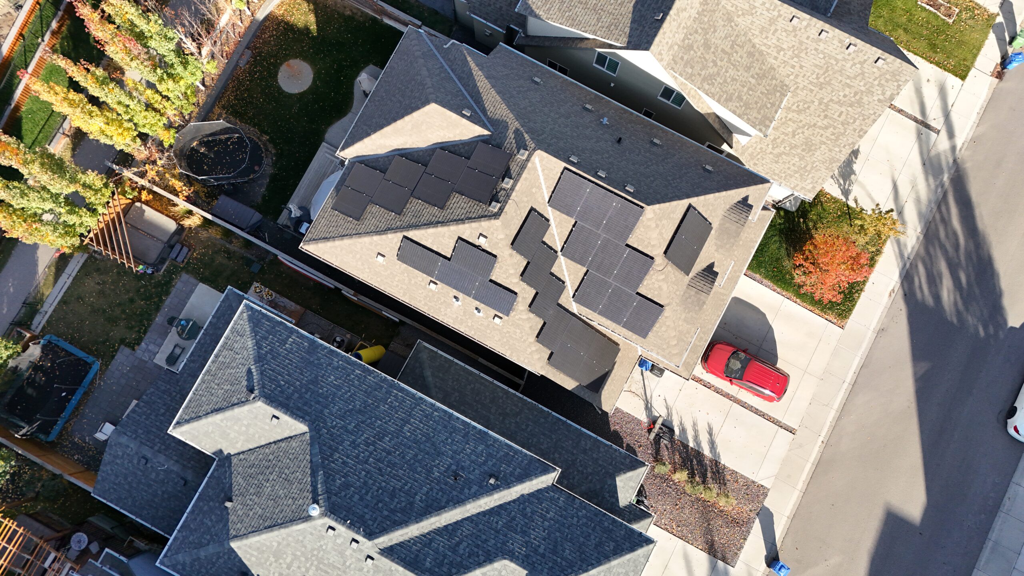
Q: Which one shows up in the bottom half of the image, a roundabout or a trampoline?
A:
trampoline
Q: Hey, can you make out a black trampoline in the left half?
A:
Yes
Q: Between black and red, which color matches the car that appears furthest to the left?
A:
red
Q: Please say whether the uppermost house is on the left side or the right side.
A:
right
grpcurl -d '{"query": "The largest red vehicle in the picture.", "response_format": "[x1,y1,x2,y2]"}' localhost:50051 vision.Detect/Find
[700,342,792,403]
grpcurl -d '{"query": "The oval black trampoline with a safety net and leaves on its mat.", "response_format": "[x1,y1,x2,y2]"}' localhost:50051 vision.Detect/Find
[171,119,278,193]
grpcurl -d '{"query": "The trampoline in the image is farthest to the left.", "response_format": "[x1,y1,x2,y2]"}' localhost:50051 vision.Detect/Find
[0,329,98,444]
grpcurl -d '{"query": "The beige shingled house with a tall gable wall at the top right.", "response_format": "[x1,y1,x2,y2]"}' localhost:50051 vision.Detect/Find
[465,0,916,203]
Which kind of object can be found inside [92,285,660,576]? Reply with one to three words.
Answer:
house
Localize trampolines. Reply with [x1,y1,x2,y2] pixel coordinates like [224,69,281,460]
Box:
[171,119,278,193]
[0,329,98,444]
